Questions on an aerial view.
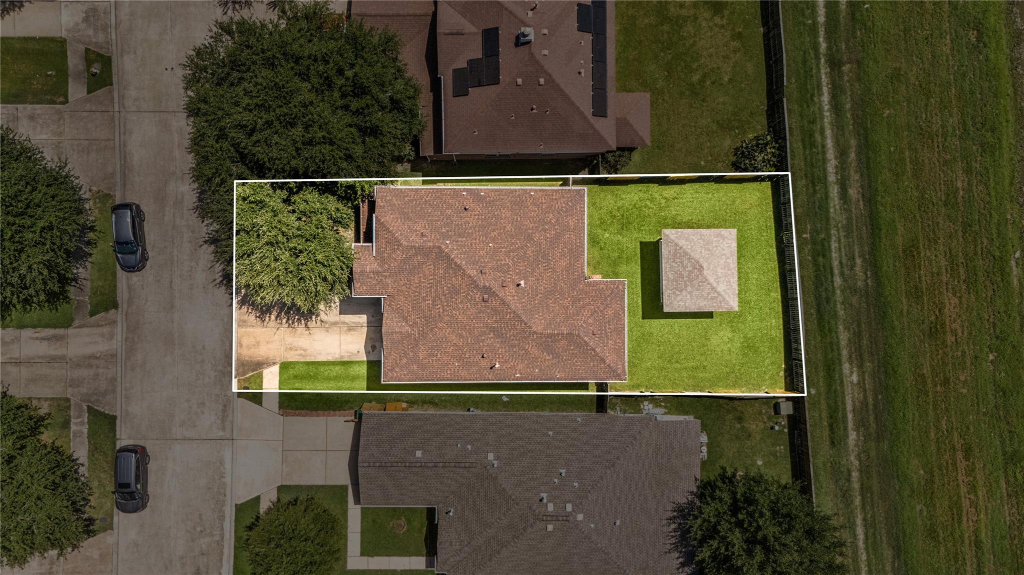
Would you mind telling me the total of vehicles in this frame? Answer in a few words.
2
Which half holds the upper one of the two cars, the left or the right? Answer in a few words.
left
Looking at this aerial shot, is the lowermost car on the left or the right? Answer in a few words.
left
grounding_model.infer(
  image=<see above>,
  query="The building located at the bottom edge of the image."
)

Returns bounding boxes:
[354,398,700,575]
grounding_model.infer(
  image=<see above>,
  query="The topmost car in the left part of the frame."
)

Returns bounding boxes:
[110,201,152,271]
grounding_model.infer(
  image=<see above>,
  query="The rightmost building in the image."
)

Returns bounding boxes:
[654,227,739,313]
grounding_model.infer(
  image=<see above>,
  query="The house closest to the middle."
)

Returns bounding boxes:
[350,187,627,383]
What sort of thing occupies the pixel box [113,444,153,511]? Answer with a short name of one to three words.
car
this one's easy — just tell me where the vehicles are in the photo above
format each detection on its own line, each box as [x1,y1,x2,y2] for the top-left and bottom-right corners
[113,444,153,511]
[110,201,152,271]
